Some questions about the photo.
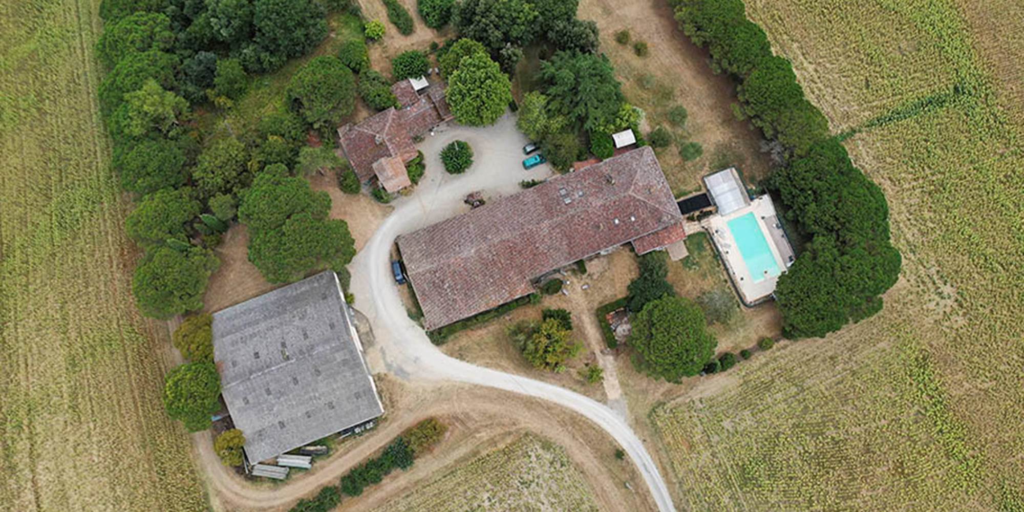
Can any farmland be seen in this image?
Yes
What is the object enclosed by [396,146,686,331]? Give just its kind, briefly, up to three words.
house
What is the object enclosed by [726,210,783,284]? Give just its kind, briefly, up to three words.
swimming pool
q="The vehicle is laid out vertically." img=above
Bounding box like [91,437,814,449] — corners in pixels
[391,259,406,284]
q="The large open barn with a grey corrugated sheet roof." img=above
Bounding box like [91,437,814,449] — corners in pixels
[213,271,385,465]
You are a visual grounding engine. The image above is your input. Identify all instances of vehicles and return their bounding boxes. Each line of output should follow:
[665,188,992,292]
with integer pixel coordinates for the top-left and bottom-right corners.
[523,141,545,155]
[523,154,547,169]
[391,259,406,284]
